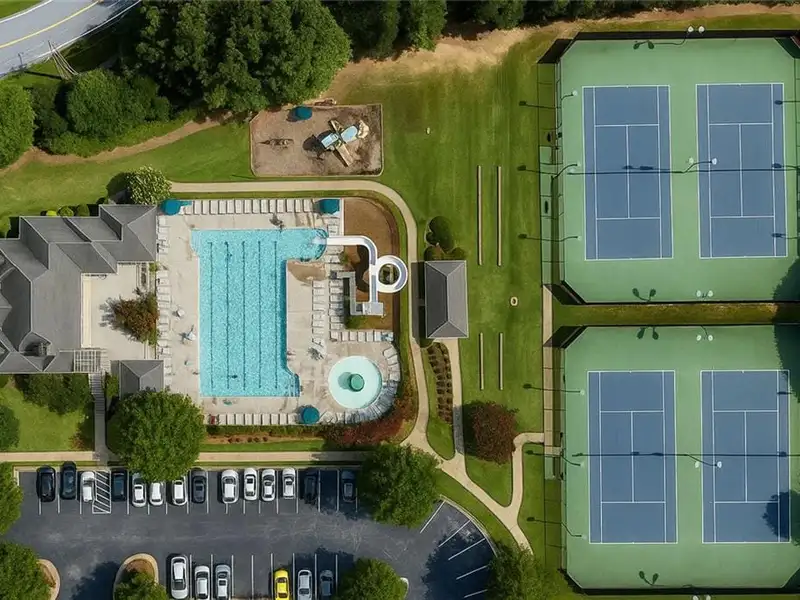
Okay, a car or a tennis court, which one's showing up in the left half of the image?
car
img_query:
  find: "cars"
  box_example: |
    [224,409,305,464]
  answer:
[171,471,188,505]
[59,461,79,500]
[214,563,232,600]
[191,468,208,505]
[148,479,165,506]
[320,568,335,600]
[280,467,296,499]
[220,469,240,504]
[302,469,319,505]
[297,568,313,600]
[170,554,190,598]
[242,467,259,501]
[273,567,291,600]
[194,565,211,600]
[260,468,277,502]
[80,470,98,503]
[130,473,148,507]
[110,468,129,503]
[36,466,58,504]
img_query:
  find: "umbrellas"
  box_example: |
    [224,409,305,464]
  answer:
[163,198,182,216]
[302,405,319,423]
[295,105,312,122]
[320,196,340,216]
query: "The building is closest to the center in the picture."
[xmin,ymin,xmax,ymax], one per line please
[424,260,469,339]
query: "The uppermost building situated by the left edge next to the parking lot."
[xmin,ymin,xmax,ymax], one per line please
[0,204,158,373]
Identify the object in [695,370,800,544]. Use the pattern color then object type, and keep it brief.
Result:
blue tennis court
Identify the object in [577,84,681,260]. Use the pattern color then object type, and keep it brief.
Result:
blue tennis court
